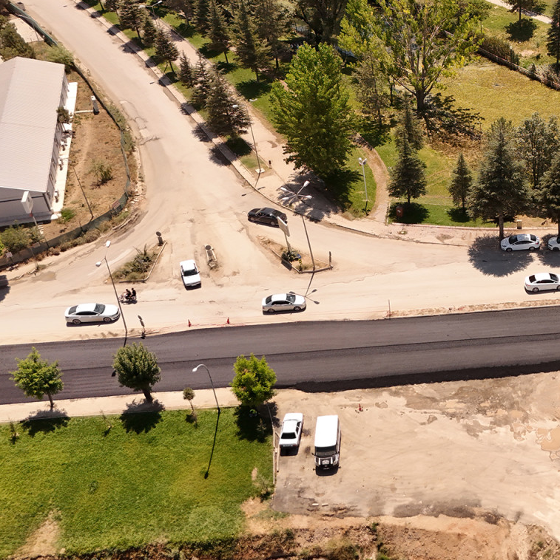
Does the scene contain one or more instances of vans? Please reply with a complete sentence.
Yes, the frame does contain a van.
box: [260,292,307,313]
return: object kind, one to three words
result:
car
